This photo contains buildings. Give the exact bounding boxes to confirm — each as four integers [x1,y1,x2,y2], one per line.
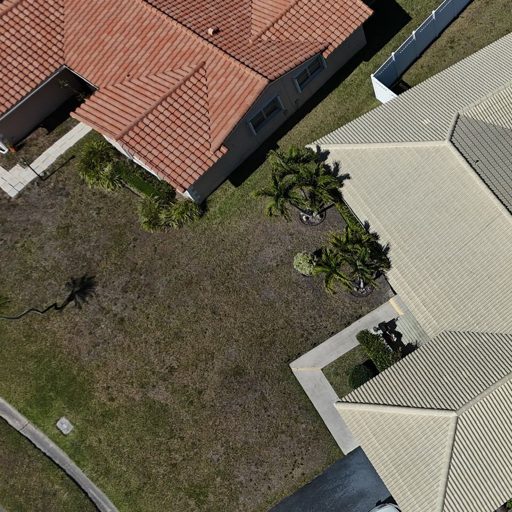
[307,32,512,512]
[0,0,375,205]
